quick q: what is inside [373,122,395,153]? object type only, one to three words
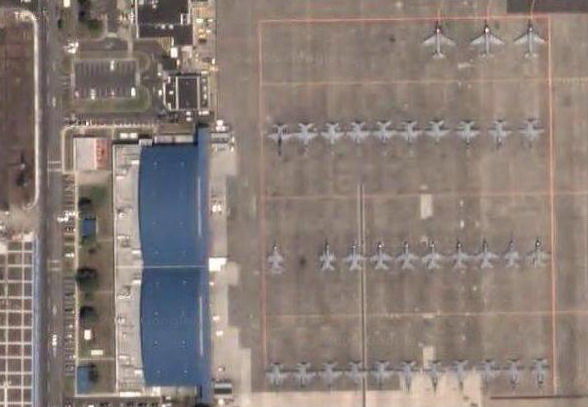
airplane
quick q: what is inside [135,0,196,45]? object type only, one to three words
building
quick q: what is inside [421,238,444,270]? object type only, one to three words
airplane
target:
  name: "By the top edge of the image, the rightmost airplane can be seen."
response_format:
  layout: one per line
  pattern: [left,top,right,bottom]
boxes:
[514,20,546,56]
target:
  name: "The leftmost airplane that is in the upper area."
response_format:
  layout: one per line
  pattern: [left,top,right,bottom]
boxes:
[269,123,291,154]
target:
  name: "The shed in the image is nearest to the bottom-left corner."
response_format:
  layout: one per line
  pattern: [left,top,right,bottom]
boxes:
[78,366,93,392]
